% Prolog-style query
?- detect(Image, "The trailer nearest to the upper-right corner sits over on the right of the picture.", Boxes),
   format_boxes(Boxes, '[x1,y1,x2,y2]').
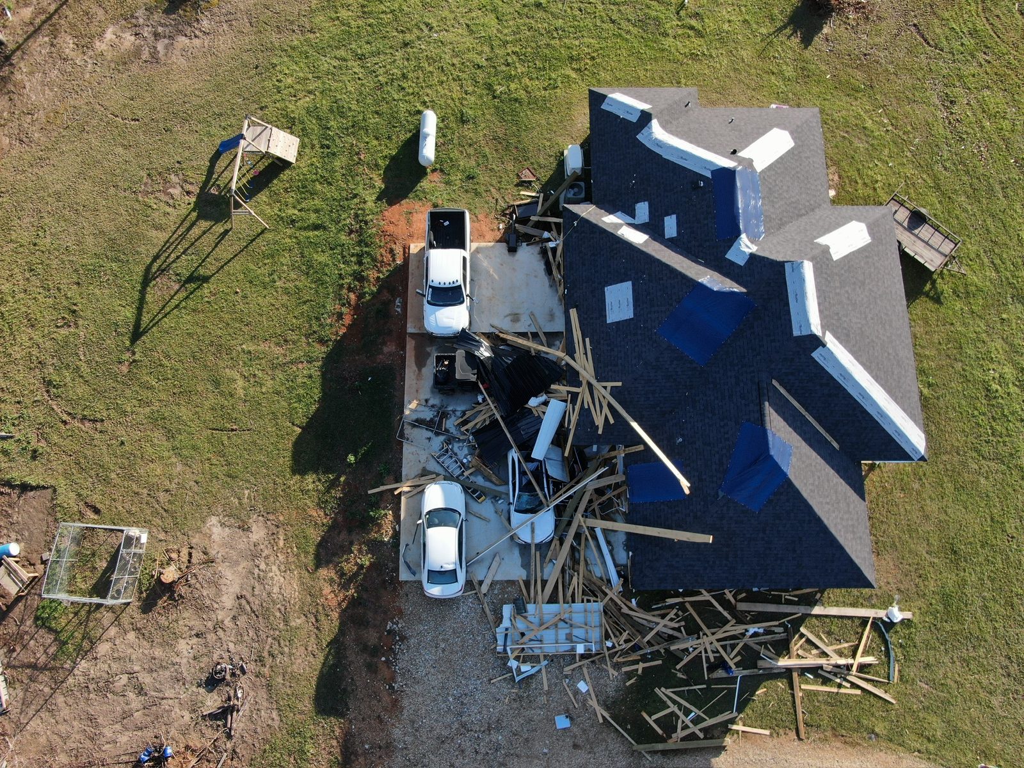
[886,185,964,277]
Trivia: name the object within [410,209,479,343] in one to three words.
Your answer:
truck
